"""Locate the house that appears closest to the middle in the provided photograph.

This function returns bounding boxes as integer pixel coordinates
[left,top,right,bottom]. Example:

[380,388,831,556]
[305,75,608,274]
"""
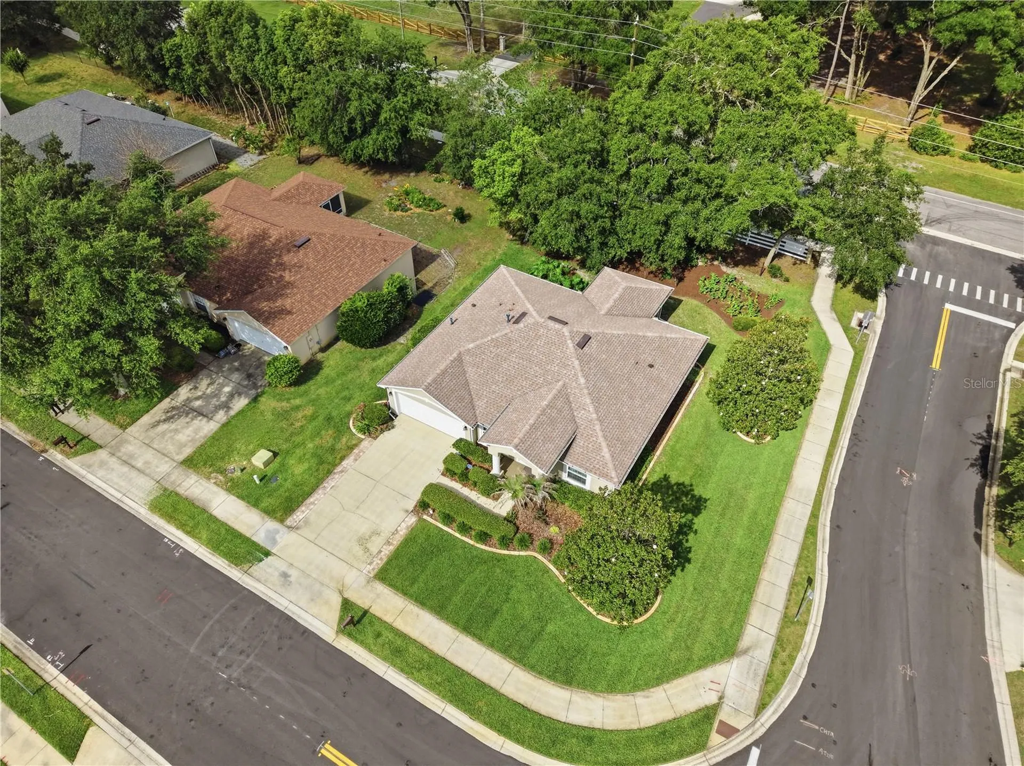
[376,265,710,503]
